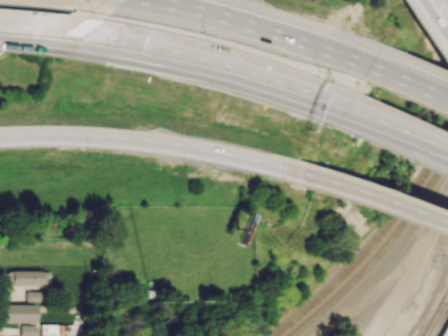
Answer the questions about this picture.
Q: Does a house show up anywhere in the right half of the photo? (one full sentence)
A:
No, there is no house in the right half of the photo.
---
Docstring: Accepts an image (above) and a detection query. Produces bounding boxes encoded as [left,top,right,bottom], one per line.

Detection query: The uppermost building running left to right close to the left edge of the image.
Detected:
[10,271,51,290]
